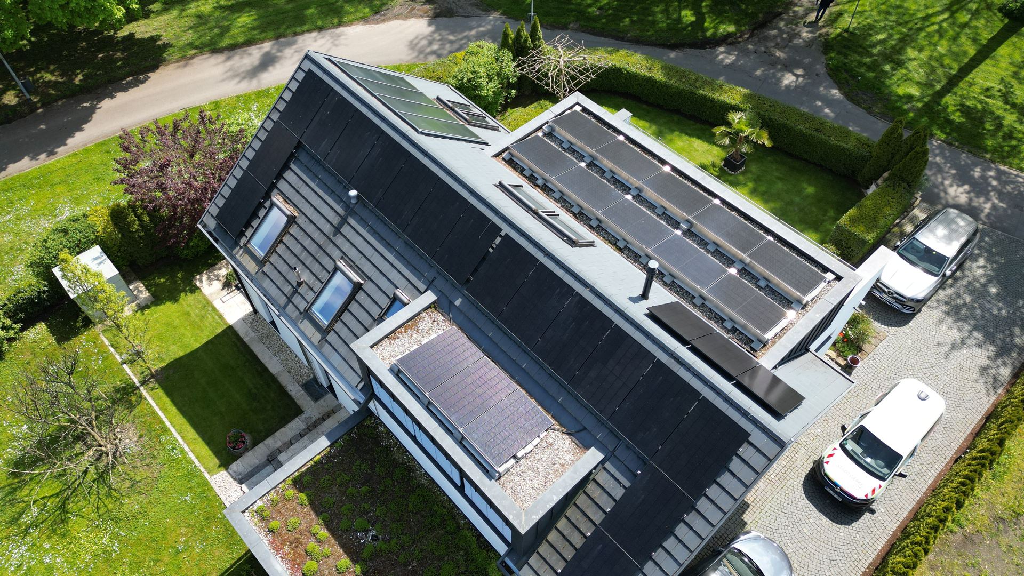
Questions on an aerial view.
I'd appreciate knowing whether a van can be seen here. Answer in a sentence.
Yes, a van appears in the view.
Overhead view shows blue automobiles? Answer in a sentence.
No, the scene contains no blue automobile.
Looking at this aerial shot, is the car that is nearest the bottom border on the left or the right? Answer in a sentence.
It is on the right.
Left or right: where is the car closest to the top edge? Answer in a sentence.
The car closest to the top edge appears in the right half of the scene.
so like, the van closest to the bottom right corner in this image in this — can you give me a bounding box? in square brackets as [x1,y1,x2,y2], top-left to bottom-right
[809,376,945,515]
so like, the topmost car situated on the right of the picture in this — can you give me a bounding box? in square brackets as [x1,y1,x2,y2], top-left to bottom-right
[868,210,982,319]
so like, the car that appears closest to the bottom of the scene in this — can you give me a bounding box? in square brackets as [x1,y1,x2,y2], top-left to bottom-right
[690,525,790,576]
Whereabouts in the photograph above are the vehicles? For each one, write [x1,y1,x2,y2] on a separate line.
[809,376,945,515]
[868,210,982,319]
[690,525,790,576]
